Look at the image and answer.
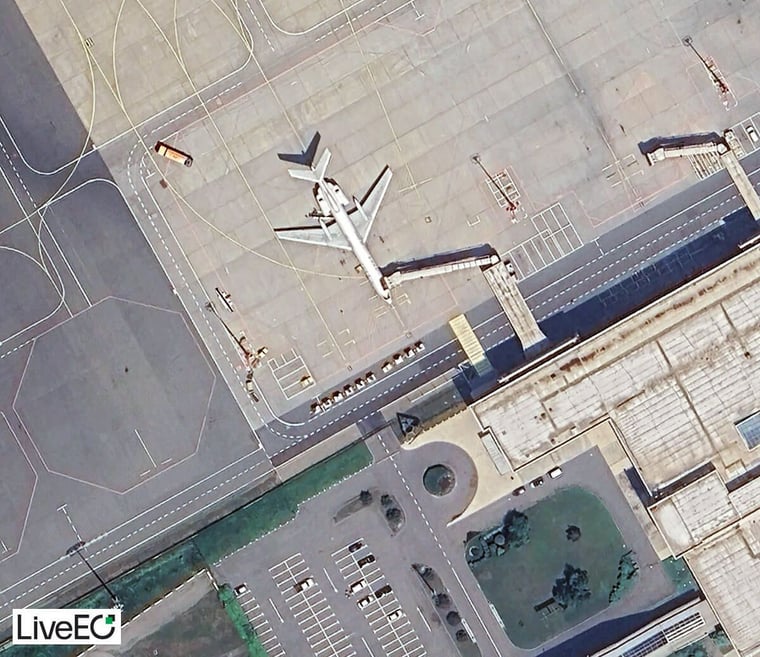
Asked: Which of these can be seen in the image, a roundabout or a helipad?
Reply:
roundabout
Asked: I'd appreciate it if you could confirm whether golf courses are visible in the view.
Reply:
No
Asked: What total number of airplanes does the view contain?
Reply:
1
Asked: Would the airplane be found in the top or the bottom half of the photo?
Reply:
top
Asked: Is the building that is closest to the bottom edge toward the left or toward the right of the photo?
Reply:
right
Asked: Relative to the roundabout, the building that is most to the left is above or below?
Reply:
above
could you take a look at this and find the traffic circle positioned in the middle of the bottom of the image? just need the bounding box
[405,445,474,514]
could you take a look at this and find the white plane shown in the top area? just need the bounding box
[273,148,392,304]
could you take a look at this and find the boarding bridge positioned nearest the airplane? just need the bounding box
[381,252,502,288]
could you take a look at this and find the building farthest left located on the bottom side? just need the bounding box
[398,412,427,445]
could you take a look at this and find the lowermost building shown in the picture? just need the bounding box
[578,596,721,657]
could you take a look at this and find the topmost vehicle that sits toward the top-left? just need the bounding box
[156,144,192,165]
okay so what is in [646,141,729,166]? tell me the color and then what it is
white jet bridge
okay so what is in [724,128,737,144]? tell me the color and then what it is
white vehicle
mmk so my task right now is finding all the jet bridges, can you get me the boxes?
[381,252,502,288]
[646,141,729,166]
